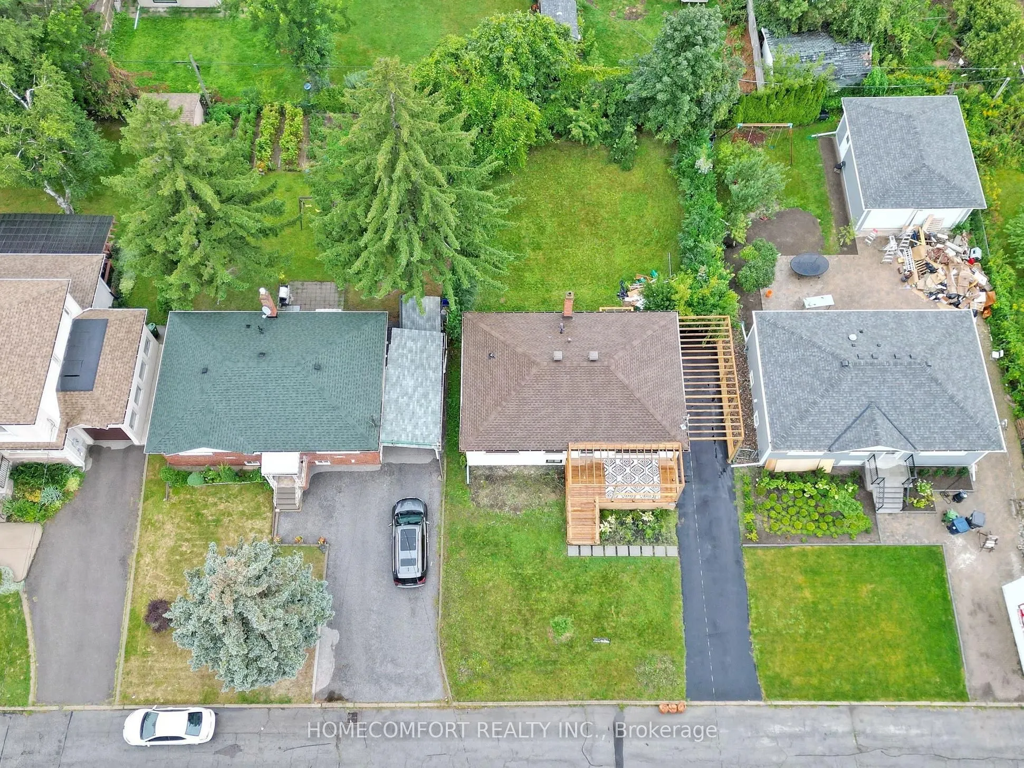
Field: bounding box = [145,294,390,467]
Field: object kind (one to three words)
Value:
house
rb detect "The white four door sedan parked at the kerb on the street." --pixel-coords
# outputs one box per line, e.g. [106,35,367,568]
[122,704,218,753]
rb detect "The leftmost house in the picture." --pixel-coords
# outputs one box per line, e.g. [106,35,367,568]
[0,252,159,472]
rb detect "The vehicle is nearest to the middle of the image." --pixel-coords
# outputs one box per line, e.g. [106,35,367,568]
[389,498,433,587]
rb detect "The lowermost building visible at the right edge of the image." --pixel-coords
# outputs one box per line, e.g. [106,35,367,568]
[734,310,1012,482]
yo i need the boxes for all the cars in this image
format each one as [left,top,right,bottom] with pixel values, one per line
[389,498,433,587]
[122,704,218,753]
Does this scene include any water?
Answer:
No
